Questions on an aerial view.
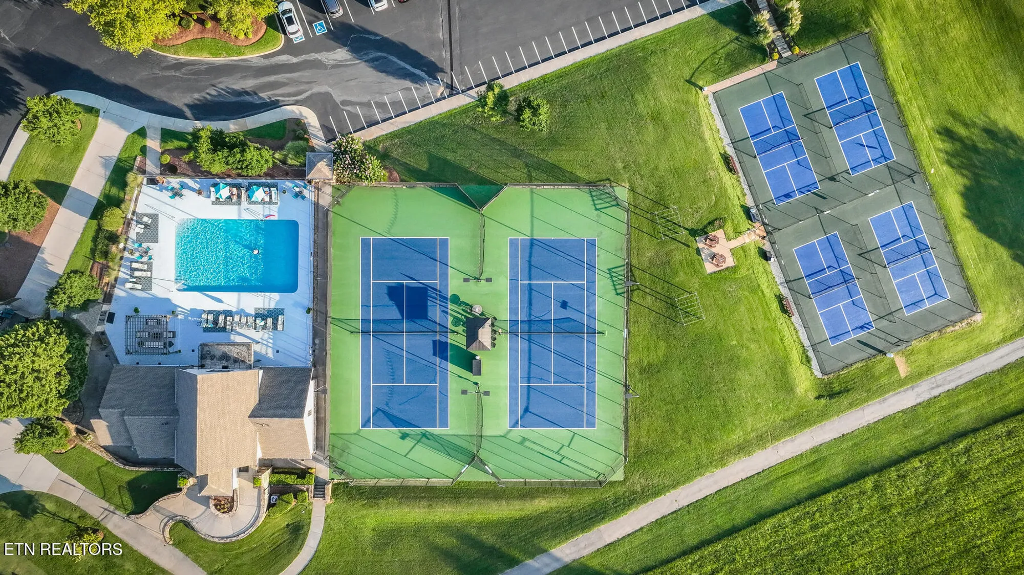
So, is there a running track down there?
No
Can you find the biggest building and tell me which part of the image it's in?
bottom left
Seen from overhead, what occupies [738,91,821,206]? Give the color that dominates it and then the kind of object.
blue sports court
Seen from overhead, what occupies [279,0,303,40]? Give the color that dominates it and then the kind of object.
white car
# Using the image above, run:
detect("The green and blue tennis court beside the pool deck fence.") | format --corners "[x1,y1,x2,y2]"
[330,185,479,480]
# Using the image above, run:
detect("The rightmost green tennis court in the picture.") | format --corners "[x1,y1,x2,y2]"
[479,186,627,480]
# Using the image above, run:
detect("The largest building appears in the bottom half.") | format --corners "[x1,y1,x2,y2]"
[90,364,319,497]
